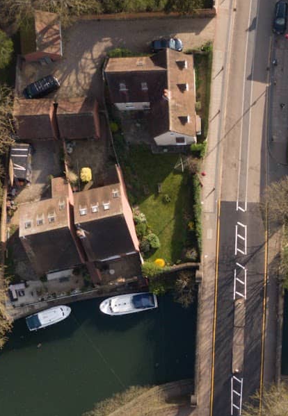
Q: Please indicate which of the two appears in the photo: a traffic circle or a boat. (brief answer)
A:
boat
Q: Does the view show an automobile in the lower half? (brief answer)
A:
No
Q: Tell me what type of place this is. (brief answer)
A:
residential area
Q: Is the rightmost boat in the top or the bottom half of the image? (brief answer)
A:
bottom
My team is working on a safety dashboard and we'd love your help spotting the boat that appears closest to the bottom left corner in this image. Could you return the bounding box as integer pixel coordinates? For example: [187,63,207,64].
[24,307,72,332]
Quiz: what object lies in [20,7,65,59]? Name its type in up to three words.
shed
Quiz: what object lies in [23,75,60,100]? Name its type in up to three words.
car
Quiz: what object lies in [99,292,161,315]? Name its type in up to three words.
boat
